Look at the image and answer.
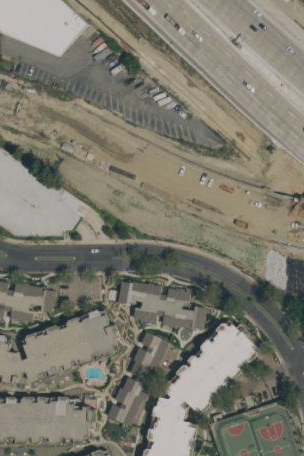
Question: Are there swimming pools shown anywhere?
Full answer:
Yes, you can see a swimming pool in this photo.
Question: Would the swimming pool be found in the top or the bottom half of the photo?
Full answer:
The swimming pool is in the bottom half of the image.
